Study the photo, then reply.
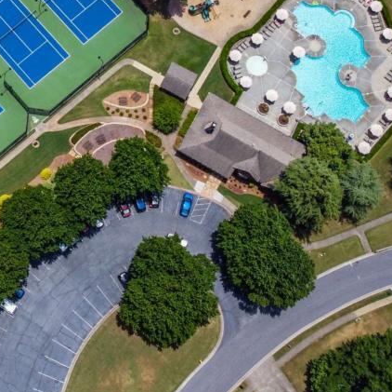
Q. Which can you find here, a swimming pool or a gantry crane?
swimming pool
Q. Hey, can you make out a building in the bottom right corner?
No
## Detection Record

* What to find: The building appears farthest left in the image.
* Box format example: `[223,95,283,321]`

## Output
[159,62,197,101]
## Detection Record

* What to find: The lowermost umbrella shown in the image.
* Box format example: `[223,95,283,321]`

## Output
[356,142,371,155]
